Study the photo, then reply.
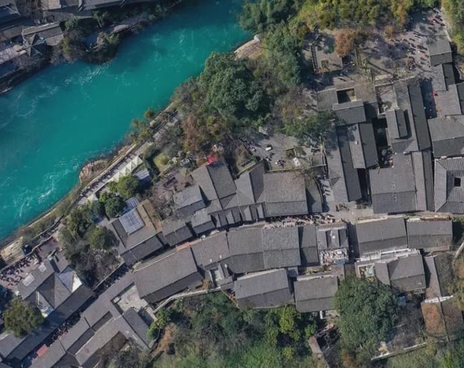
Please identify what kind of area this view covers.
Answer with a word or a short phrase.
residential area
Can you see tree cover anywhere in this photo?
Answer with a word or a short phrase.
Yes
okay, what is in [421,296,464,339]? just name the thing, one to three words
house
